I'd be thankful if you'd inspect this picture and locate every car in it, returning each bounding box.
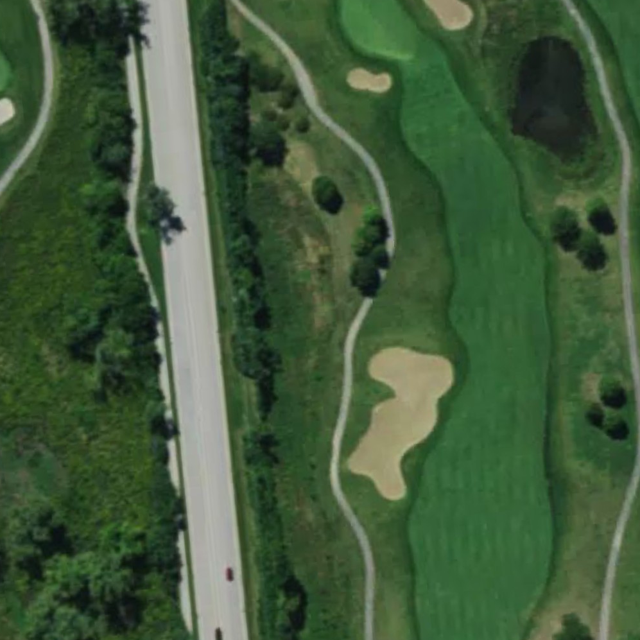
[215,628,222,640]
[226,567,233,582]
